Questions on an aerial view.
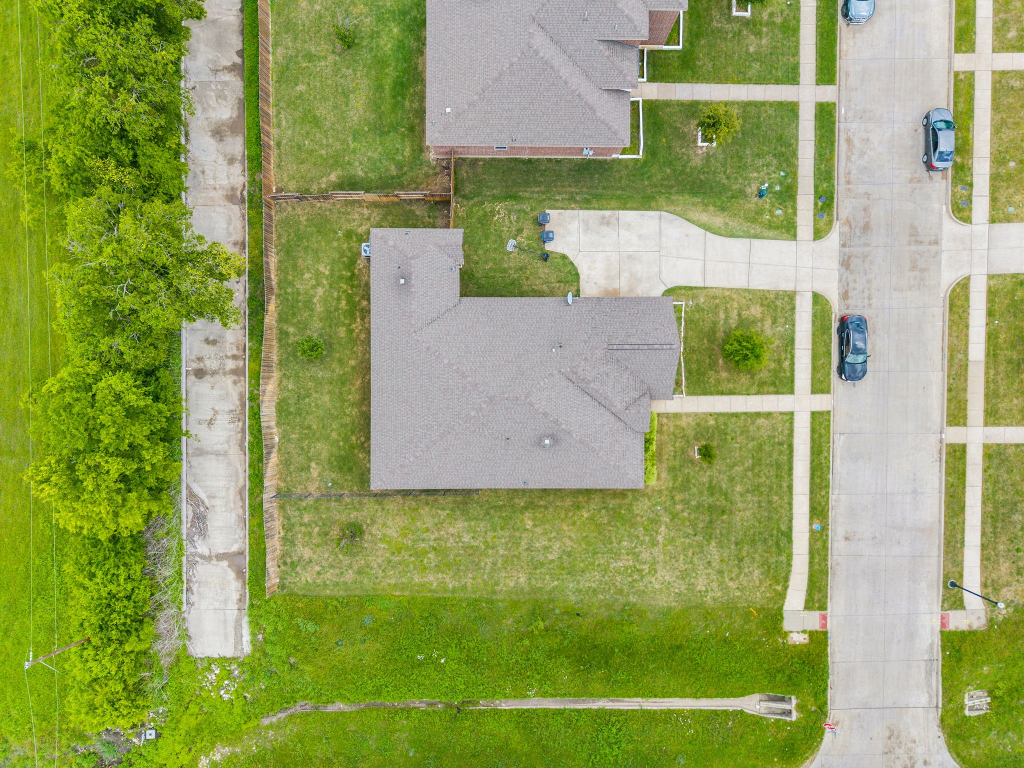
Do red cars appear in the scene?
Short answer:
No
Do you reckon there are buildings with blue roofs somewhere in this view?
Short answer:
No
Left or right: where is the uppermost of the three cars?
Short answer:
right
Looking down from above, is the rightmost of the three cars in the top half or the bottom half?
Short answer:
top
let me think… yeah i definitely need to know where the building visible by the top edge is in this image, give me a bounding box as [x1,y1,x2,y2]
[425,0,688,157]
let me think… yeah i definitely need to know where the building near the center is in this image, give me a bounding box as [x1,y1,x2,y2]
[370,227,683,490]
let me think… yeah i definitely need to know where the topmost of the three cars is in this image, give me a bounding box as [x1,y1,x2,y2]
[841,0,876,27]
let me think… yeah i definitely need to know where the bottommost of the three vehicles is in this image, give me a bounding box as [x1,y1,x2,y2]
[835,314,871,381]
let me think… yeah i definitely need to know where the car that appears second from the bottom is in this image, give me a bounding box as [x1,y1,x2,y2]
[921,109,959,173]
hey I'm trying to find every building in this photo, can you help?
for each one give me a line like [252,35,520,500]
[370,227,683,490]
[425,0,688,157]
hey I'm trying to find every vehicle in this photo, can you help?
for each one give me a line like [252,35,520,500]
[835,314,871,381]
[841,0,876,27]
[921,109,959,173]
